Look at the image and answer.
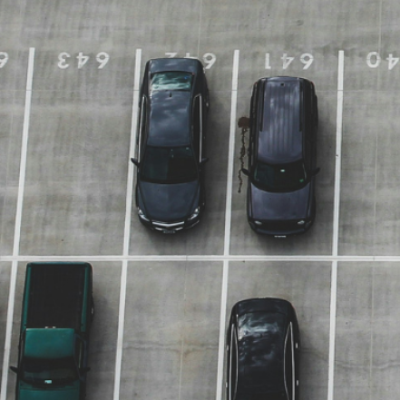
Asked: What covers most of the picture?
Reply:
paved ground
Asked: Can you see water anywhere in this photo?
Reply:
No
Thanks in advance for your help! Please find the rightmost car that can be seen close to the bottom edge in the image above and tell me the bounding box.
[223,297,301,400]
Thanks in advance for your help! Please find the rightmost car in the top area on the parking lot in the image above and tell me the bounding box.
[237,76,325,238]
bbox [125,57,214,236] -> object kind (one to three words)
car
